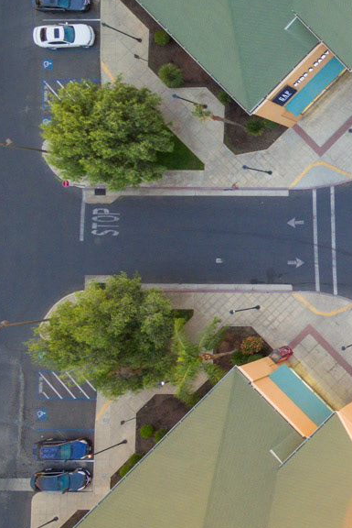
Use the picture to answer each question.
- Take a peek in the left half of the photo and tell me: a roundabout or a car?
car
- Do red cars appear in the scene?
No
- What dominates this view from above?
paved ground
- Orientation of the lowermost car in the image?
horizontally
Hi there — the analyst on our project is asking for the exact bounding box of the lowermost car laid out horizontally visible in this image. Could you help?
[34,465,96,494]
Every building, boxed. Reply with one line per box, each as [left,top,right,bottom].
[71,354,352,528]
[138,0,352,128]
